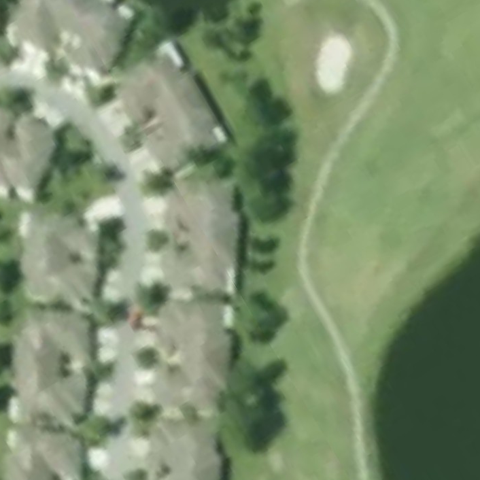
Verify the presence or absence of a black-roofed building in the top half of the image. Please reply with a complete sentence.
No, no black-roofed building can be made out in the top half of the image.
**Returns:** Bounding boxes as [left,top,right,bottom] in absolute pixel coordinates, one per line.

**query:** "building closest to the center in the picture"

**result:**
[161,179,240,297]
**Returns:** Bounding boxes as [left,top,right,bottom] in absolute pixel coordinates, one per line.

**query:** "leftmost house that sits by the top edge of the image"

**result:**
[6,0,134,72]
